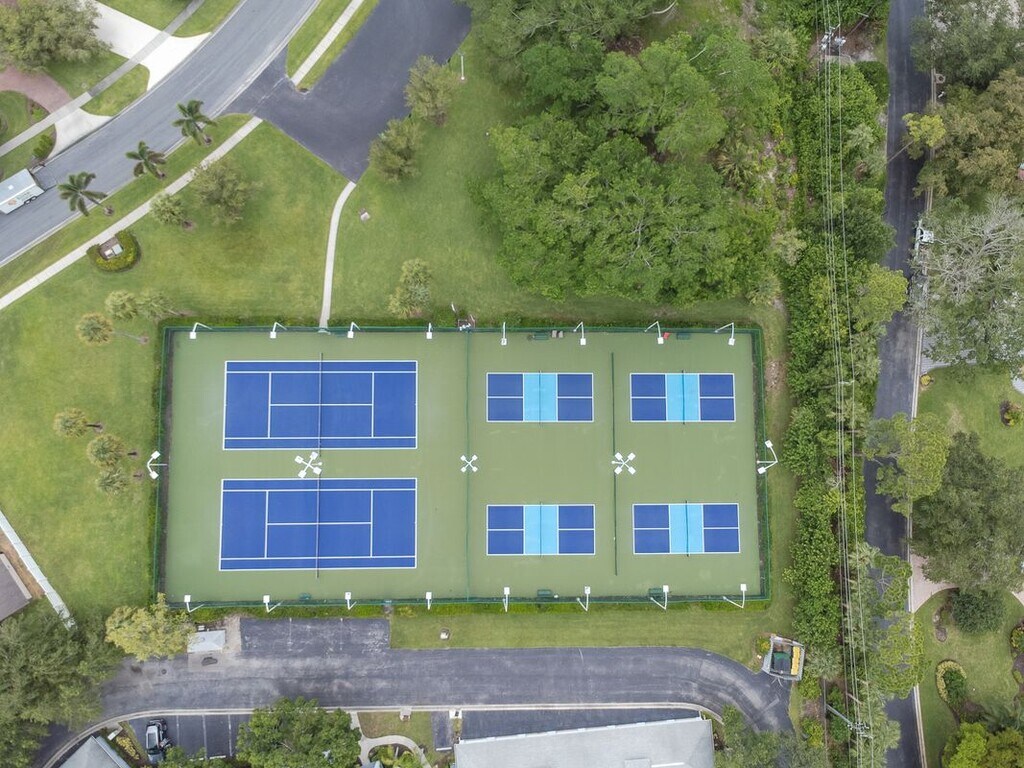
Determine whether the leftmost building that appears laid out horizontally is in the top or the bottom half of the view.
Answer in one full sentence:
Seen from above, the leftmost building that appears laid out horizontally lies in the bottom half of the view.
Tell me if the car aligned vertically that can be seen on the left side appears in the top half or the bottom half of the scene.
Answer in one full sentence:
The car aligned vertically that can be seen on the left side is in the bottom half of the image.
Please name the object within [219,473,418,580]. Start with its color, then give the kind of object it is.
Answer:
blue tennis court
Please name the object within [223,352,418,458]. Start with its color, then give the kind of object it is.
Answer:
blue tennis court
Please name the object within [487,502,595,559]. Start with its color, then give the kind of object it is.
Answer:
blue sports court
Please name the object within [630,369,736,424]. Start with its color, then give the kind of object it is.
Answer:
blue sports court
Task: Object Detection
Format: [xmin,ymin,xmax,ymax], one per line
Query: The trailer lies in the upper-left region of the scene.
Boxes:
[0,169,49,213]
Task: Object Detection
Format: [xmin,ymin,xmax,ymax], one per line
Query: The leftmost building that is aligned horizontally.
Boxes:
[58,729,145,768]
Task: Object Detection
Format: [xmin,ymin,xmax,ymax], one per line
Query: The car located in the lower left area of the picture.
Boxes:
[146,717,168,760]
